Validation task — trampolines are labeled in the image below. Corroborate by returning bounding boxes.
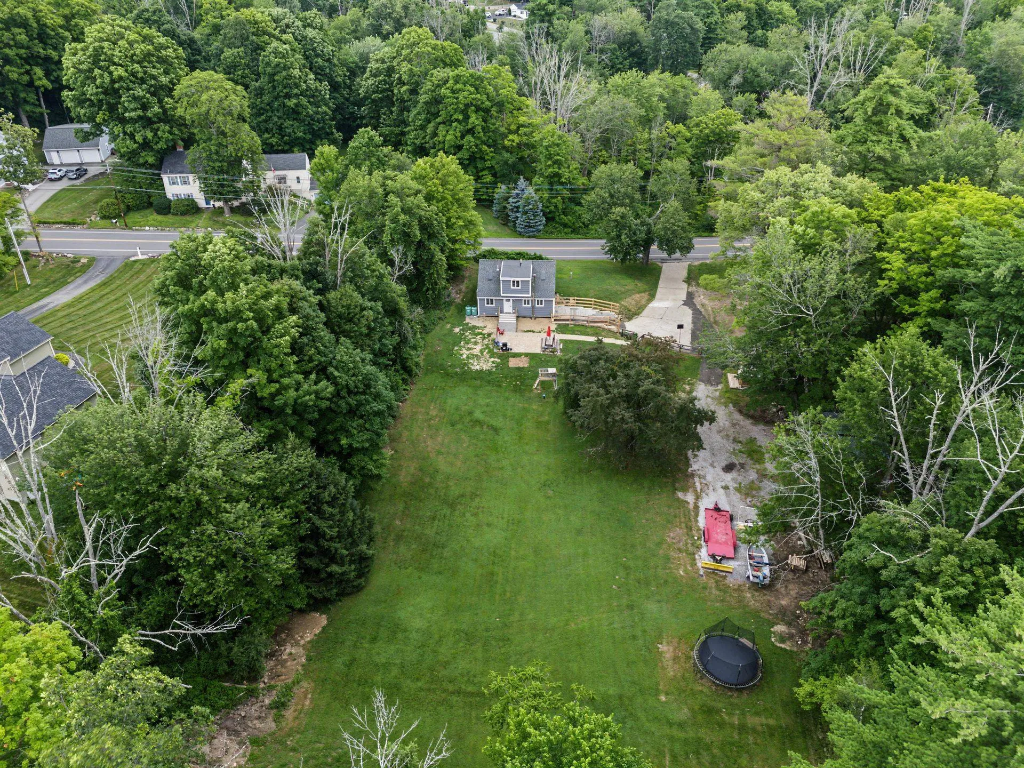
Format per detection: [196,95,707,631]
[693,615,768,698]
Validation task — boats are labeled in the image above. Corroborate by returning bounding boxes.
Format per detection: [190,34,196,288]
[744,544,772,590]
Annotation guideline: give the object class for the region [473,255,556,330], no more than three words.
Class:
house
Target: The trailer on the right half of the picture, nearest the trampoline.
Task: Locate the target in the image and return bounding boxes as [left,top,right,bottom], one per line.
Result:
[702,498,737,560]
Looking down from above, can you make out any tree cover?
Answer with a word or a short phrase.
Yes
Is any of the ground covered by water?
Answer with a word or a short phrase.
No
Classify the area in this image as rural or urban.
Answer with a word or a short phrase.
rural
